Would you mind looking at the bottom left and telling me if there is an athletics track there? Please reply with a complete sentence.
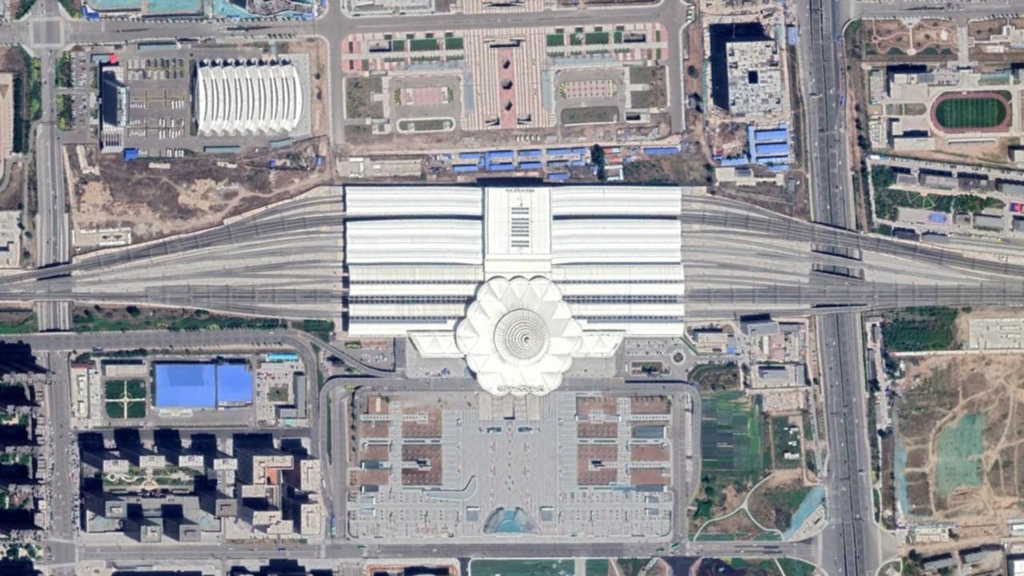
No, the scene shows no athletics track at the bottom left.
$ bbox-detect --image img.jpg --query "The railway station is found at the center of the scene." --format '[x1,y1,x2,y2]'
[327,183,693,397]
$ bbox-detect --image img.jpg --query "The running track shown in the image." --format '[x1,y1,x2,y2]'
[930,90,1012,135]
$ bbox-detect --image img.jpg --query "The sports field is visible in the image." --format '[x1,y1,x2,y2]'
[936,97,1006,128]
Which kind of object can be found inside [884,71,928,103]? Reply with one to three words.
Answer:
building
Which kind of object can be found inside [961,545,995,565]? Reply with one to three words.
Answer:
building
